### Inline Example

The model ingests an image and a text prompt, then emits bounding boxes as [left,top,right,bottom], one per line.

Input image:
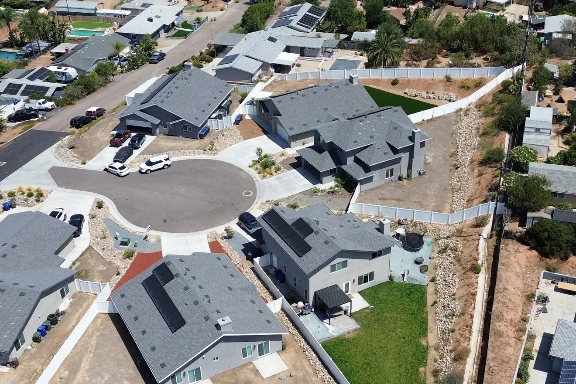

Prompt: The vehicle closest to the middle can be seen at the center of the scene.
[234,206,262,234]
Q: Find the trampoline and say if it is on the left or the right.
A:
right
